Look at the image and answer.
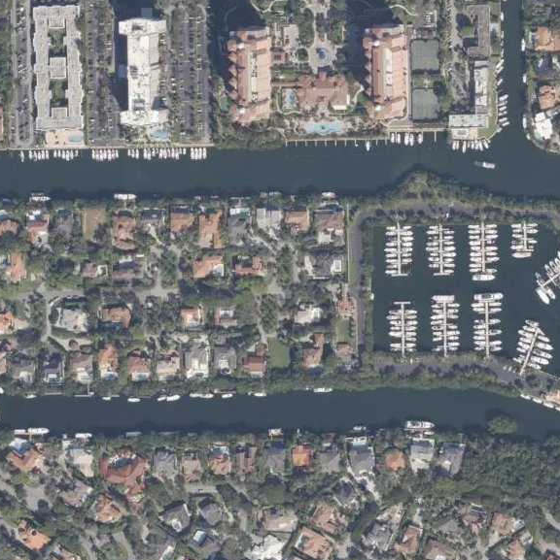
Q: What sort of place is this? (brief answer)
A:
residential area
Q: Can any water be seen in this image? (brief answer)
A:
Yes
